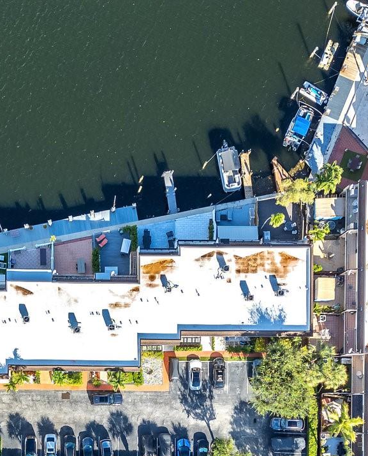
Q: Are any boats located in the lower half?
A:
No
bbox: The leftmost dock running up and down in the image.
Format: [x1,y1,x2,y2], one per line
[160,170,180,215]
